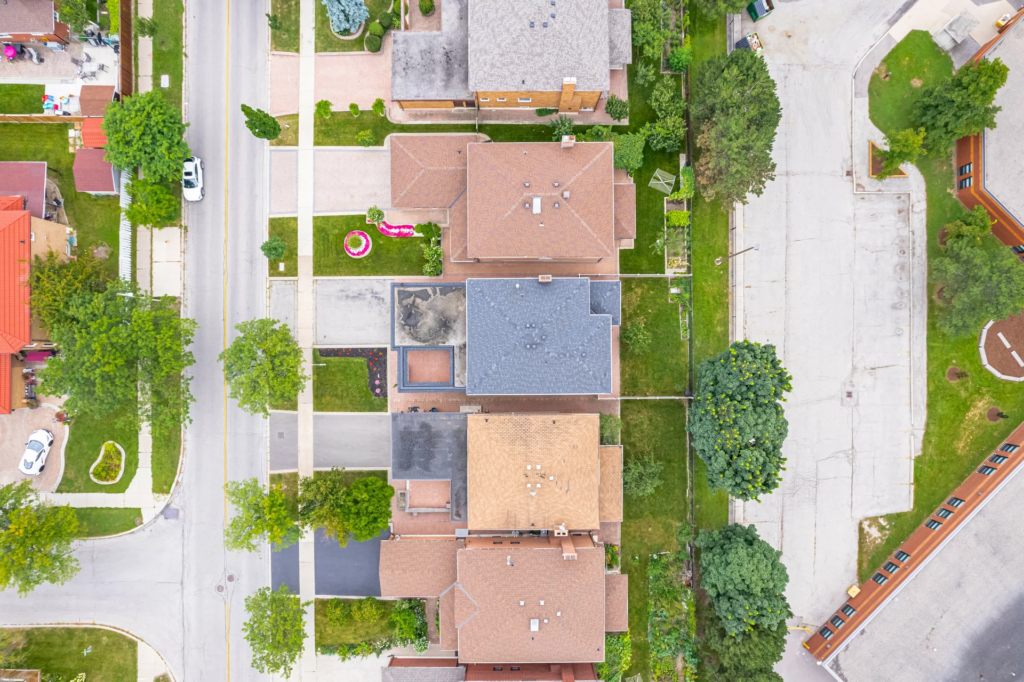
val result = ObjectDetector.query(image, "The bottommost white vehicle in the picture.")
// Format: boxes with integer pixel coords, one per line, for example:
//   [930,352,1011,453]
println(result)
[14,427,55,479]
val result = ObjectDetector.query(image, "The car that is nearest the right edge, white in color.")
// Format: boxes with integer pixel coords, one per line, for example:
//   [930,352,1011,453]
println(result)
[178,153,205,203]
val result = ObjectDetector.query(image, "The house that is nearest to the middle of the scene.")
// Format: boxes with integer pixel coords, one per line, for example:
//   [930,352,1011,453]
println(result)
[390,271,622,396]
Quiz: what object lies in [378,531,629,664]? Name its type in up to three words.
house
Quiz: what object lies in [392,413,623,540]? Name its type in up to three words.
house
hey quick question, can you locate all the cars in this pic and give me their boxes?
[14,427,55,479]
[178,153,205,203]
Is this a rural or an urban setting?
urban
